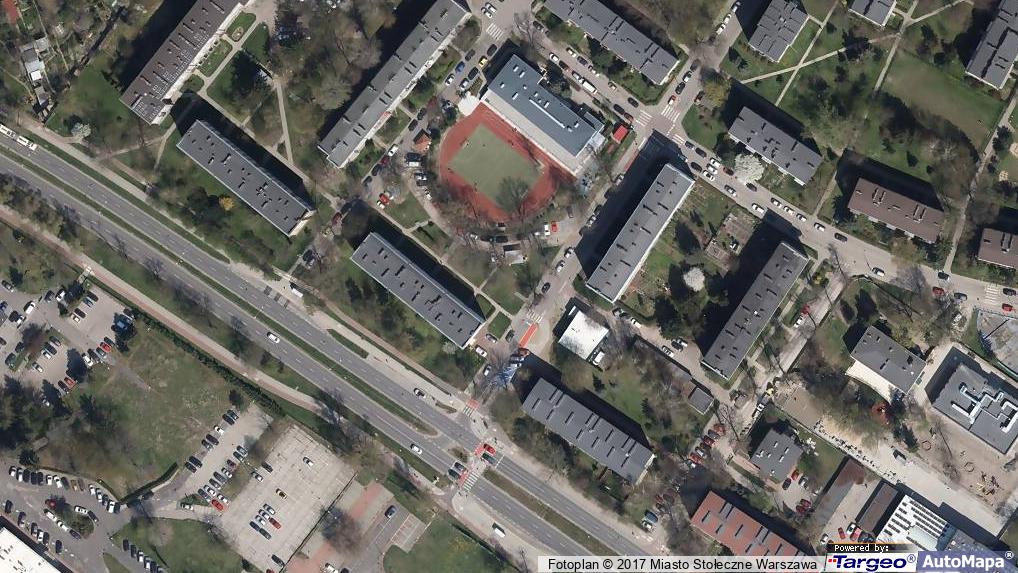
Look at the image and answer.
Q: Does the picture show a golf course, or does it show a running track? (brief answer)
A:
running track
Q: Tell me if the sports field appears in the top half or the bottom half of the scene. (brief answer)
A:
top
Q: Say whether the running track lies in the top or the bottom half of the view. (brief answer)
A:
top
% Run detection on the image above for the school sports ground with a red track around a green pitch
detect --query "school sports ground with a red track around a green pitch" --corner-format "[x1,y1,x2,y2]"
[439,101,576,222]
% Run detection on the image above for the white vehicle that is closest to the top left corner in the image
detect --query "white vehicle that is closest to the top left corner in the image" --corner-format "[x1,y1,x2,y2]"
[0,121,40,152]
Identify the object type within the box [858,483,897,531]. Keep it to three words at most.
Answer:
shed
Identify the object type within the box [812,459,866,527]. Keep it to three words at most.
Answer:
shed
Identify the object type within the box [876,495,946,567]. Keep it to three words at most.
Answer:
building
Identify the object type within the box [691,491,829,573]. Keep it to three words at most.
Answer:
building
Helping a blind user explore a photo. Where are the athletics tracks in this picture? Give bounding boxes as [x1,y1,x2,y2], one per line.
[439,101,576,222]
